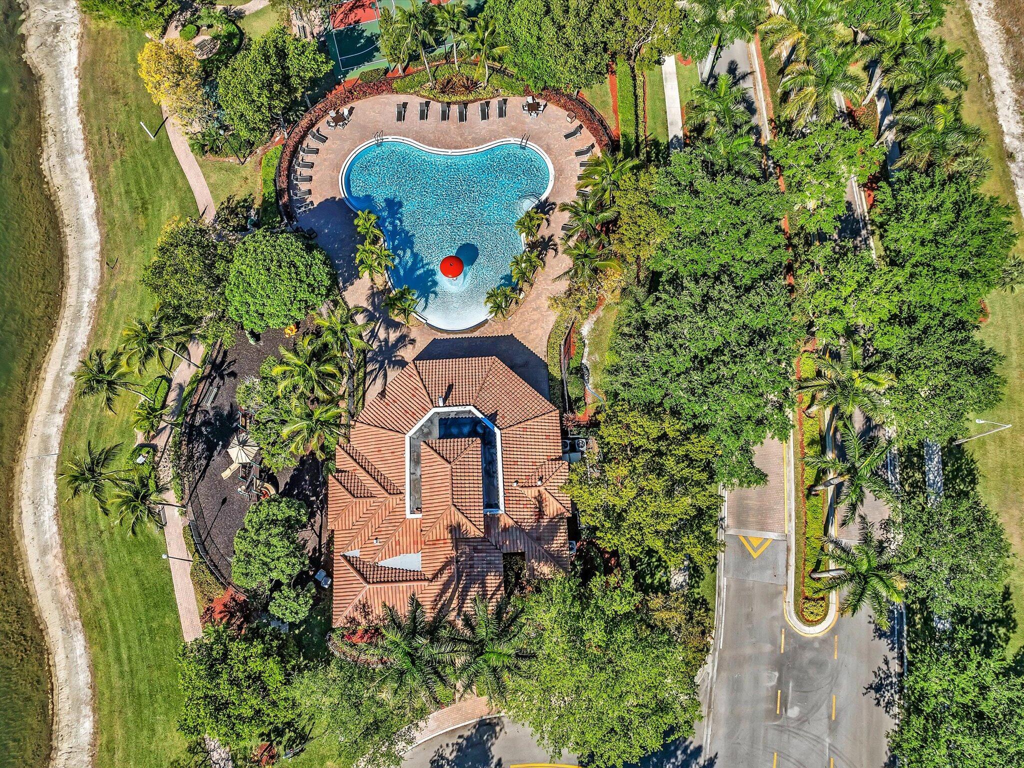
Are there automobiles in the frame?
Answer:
No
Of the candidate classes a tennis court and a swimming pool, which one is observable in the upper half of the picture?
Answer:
swimming pool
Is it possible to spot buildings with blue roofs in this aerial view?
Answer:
No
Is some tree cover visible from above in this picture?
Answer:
Yes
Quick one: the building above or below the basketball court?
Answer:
below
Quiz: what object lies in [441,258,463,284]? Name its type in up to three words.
fountain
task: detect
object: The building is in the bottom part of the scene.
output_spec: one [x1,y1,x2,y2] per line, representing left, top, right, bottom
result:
[327,356,573,628]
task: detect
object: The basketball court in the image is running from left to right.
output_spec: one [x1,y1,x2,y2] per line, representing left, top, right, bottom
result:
[309,0,562,82]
